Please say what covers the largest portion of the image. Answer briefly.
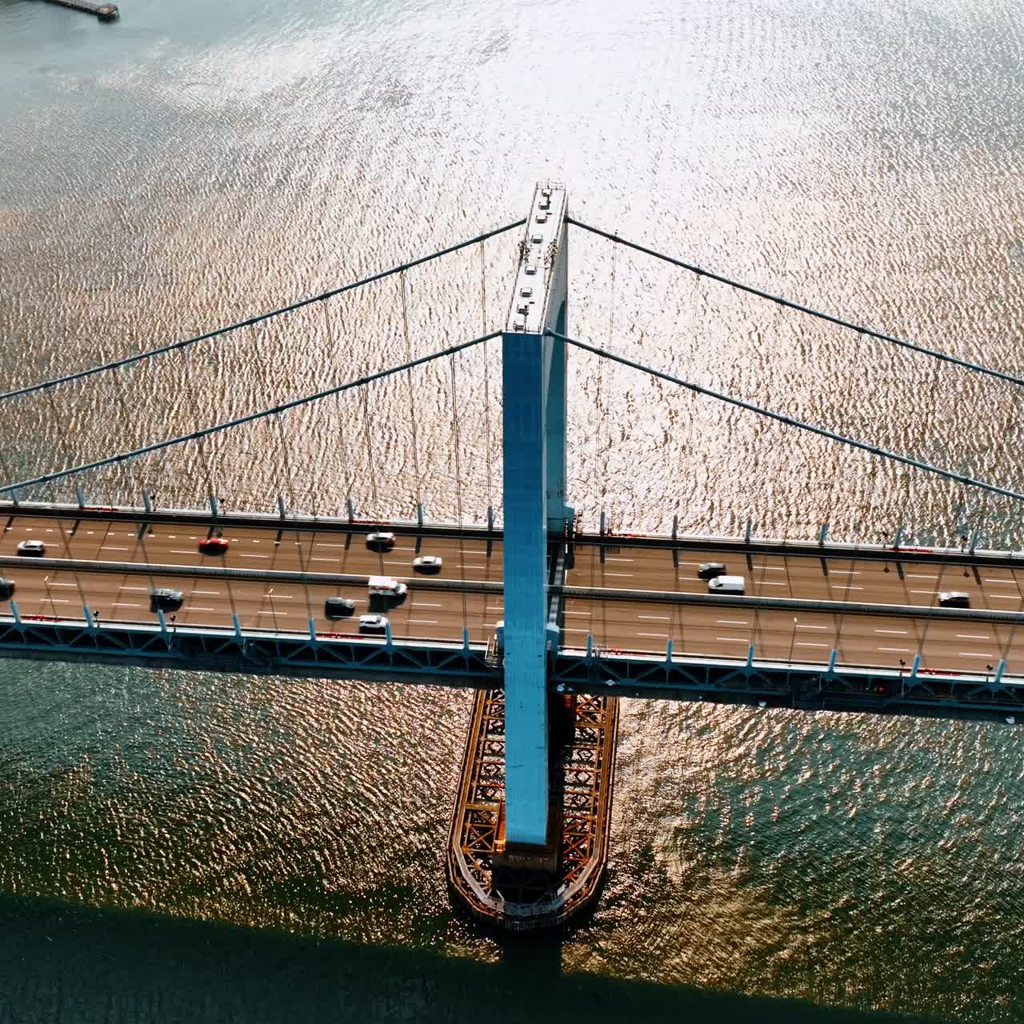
water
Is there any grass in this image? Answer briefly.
No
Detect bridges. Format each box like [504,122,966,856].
[0,176,1024,876]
